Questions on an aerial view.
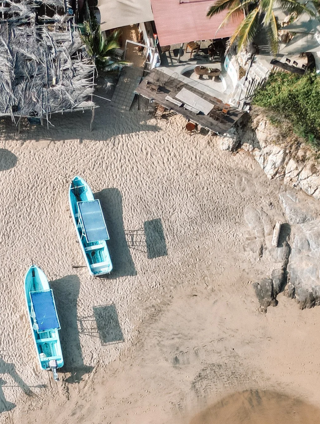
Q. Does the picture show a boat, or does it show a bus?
boat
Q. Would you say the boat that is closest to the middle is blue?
Yes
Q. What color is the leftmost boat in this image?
blue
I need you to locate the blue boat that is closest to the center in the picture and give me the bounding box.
[72,177,113,279]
